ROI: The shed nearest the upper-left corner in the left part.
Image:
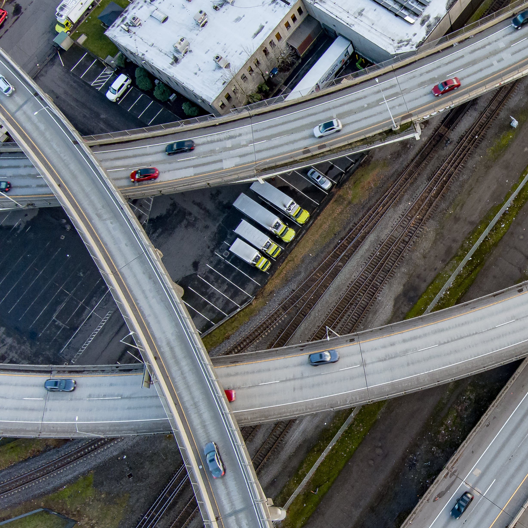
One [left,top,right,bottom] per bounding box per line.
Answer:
[54,31,81,57]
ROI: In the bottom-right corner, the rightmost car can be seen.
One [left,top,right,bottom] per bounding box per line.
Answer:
[449,488,476,522]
